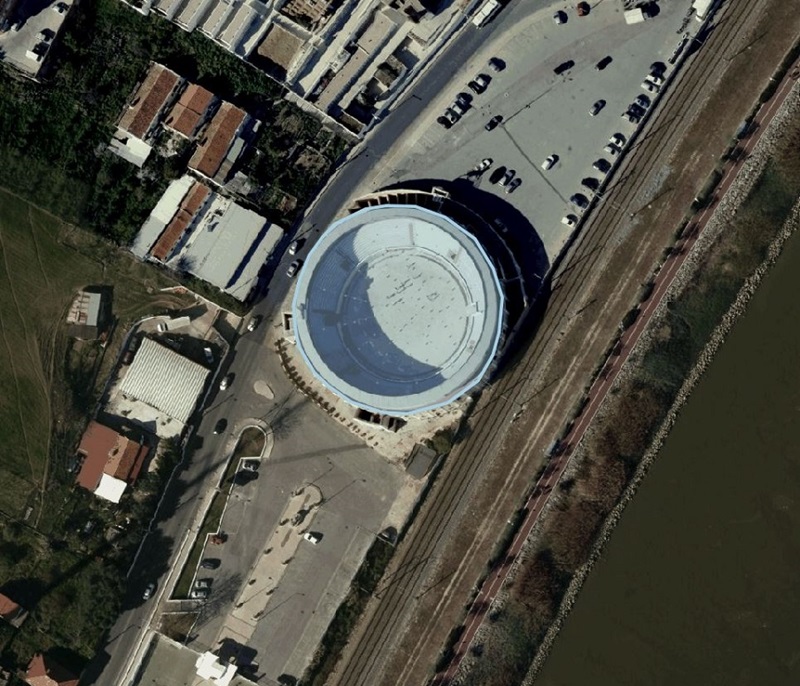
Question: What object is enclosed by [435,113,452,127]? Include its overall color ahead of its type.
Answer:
black car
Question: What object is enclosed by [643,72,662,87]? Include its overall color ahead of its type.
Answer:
white car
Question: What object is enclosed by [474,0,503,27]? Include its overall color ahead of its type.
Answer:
white truck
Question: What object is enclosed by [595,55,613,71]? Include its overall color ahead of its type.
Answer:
black car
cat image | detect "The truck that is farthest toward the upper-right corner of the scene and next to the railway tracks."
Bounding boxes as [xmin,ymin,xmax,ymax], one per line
[693,0,715,24]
